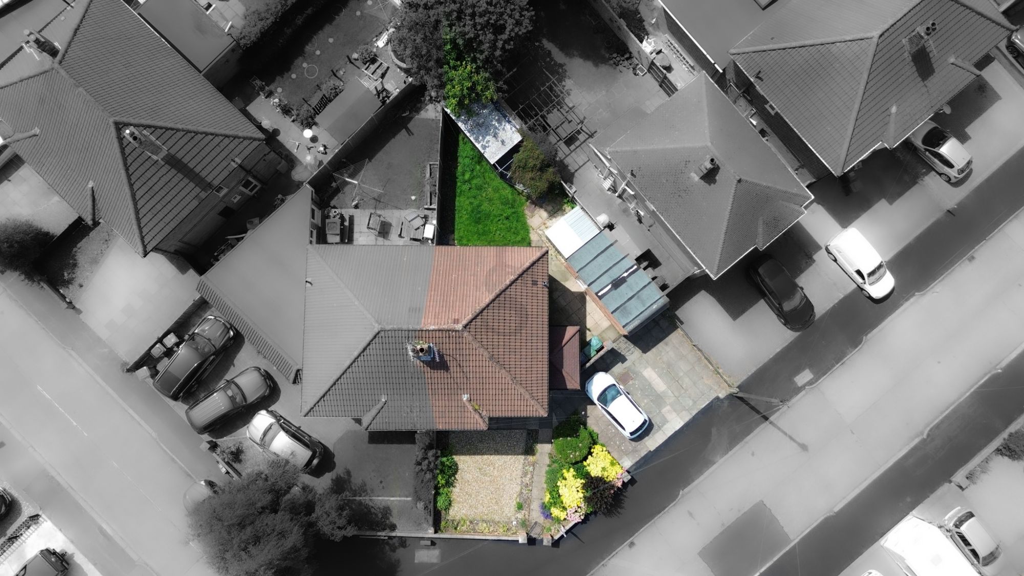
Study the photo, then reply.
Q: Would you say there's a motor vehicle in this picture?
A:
Yes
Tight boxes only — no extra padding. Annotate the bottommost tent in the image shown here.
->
[291,159,316,179]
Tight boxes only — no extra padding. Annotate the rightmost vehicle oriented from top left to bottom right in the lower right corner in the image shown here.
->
[939,505,1009,576]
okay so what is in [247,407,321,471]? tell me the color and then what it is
white car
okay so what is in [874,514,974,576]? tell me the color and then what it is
white camper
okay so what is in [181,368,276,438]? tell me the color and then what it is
gray car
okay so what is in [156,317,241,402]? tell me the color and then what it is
gray car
